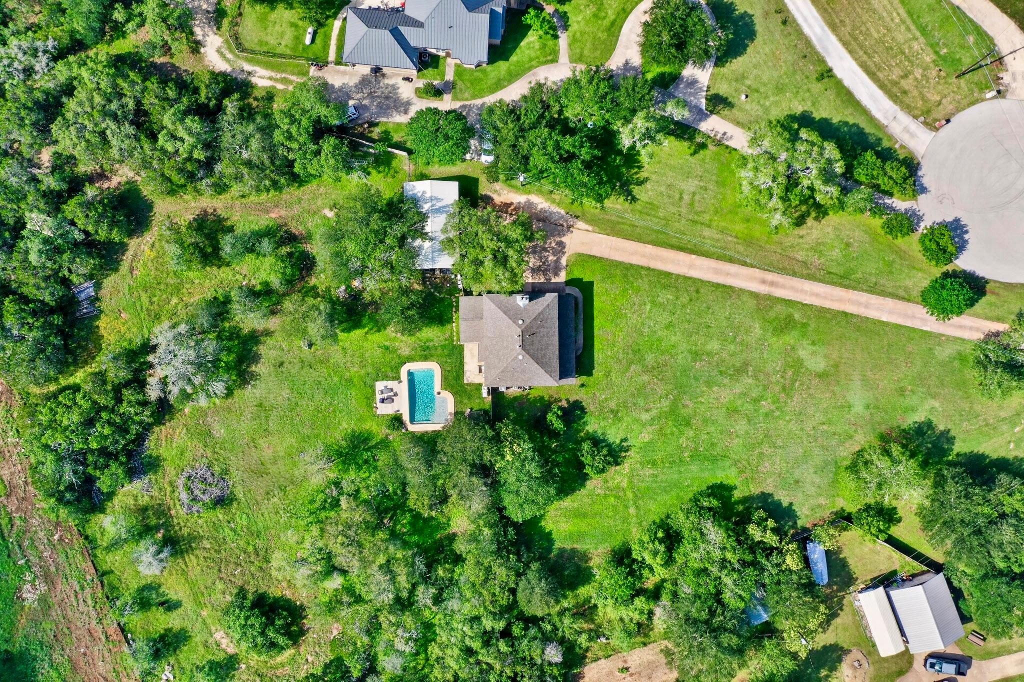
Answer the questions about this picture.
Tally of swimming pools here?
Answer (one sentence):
The picture shows 1 swimming pool.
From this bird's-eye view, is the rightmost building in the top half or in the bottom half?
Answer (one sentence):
The bottom half of the photo is where the rightmost building is.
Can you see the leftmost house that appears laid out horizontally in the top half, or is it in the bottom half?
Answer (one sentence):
The leftmost house that appears laid out horizontally is in the top half of the image.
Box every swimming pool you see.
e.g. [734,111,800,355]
[400,362,454,431]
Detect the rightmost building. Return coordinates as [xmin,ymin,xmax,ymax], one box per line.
[880,569,965,654]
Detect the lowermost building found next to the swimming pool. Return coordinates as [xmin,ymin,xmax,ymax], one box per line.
[459,293,576,387]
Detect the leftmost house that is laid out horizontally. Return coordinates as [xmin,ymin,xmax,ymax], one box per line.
[342,0,506,74]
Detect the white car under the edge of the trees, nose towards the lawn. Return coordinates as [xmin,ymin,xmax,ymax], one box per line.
[477,126,494,163]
